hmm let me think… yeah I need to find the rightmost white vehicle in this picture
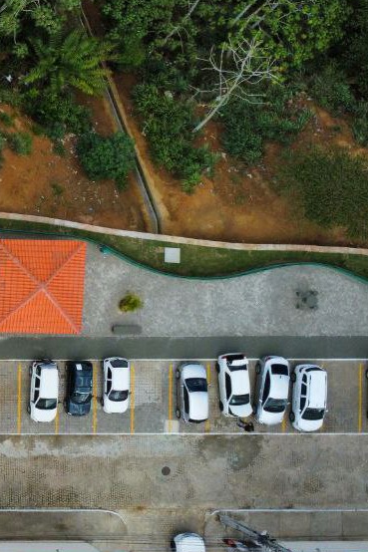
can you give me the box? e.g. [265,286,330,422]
[289,364,330,431]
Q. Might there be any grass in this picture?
Yes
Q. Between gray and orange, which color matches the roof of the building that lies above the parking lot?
orange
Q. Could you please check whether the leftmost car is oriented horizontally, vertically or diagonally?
vertically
